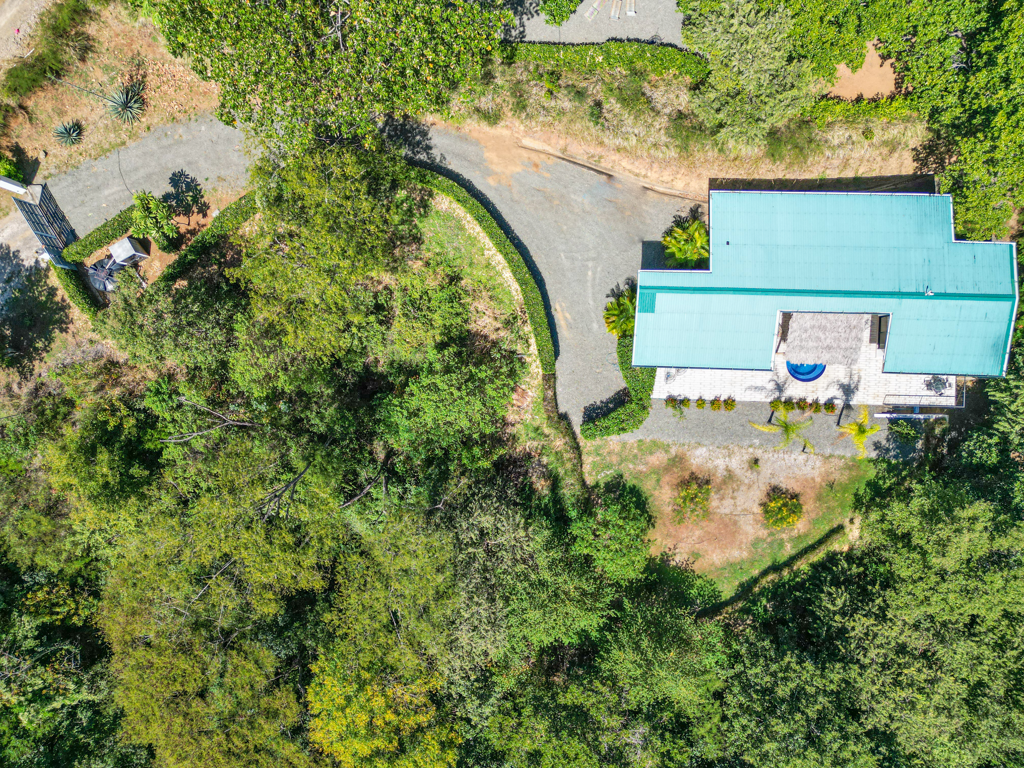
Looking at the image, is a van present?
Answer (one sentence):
No, the picture doesn't show any van.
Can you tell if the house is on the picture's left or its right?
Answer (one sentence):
The house sits on the right side.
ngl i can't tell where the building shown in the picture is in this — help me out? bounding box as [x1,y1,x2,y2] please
[629,188,1022,380]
